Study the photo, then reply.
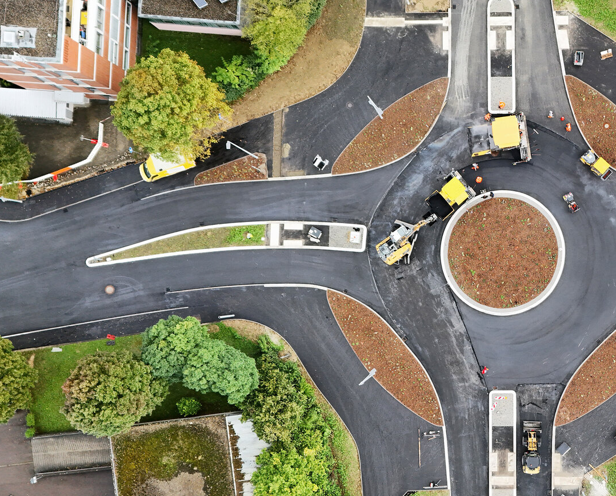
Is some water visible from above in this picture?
No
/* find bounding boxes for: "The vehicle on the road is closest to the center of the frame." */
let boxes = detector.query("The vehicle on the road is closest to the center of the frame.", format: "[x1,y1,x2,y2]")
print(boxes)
[371,211,447,276]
